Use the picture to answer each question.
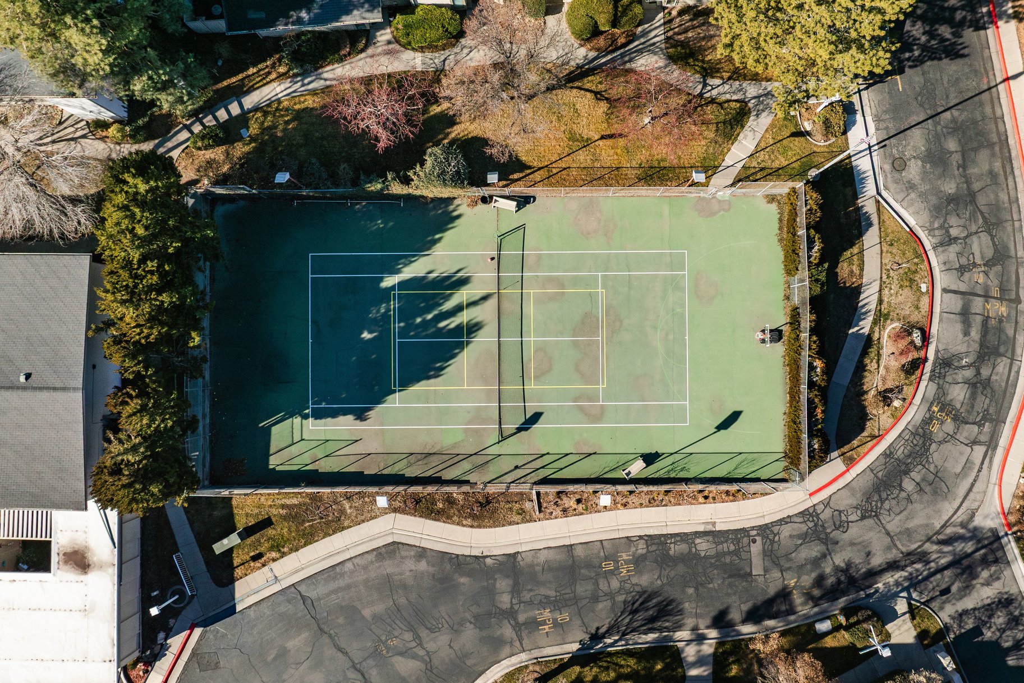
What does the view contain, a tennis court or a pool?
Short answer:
tennis court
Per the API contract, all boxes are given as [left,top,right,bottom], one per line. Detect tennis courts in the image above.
[210,193,789,485]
